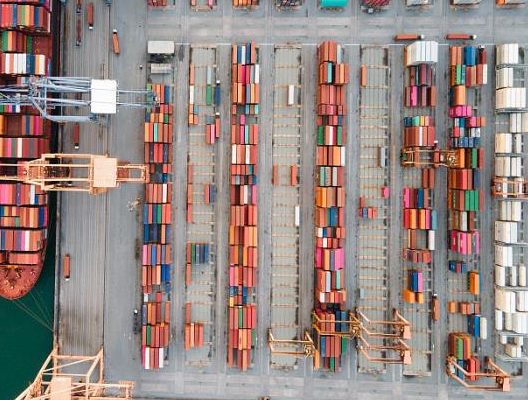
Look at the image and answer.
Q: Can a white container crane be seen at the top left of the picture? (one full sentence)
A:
Yes, at the top left of the picture there is a white container crane.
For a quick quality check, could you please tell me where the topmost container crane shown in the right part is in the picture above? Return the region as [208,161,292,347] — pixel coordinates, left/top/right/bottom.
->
[403,148,462,168]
